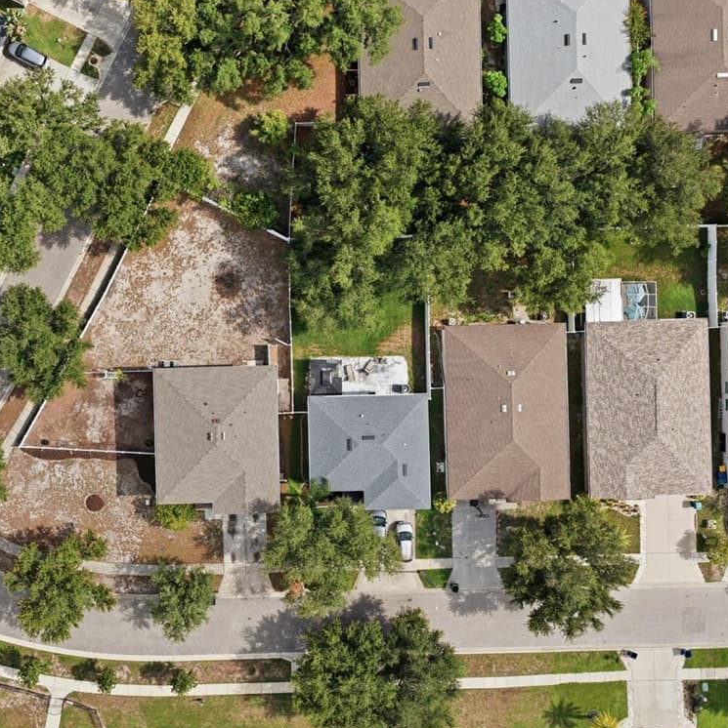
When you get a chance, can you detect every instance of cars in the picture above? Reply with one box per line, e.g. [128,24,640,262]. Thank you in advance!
[369,511,391,553]
[3,38,52,71]
[394,519,417,565]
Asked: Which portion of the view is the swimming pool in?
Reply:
right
